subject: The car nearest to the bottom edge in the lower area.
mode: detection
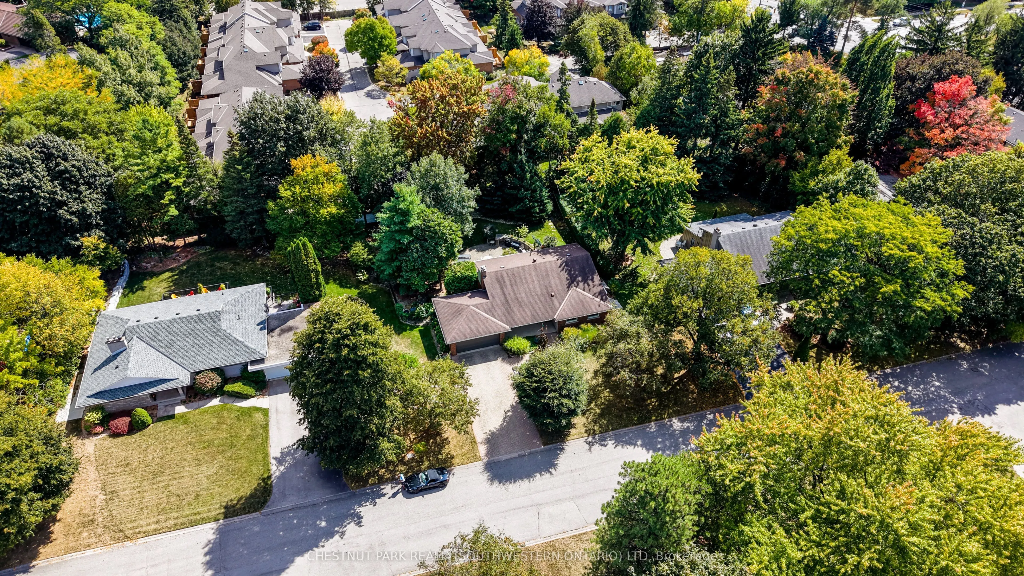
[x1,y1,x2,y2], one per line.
[403,470,450,499]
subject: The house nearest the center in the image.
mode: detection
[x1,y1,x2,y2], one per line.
[430,243,627,355]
